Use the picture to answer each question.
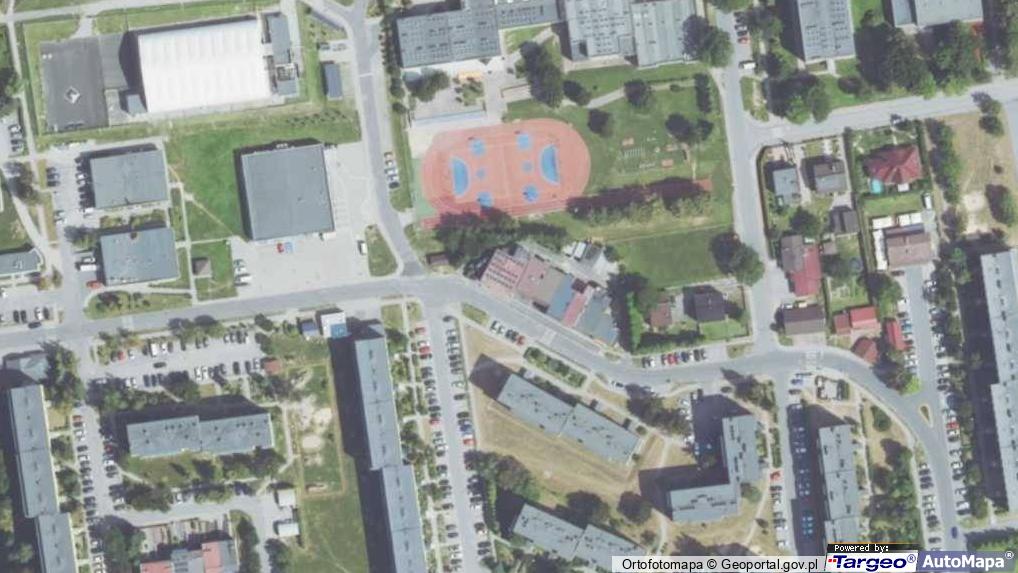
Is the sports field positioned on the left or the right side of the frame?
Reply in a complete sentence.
You can find the sports field on the right side of the picture.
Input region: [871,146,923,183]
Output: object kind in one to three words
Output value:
house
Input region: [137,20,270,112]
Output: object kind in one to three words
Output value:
building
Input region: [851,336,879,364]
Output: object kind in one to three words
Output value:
shed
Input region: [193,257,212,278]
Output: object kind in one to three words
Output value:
shed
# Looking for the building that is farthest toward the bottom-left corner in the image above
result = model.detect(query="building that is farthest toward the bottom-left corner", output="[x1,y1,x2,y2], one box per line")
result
[37,511,81,573]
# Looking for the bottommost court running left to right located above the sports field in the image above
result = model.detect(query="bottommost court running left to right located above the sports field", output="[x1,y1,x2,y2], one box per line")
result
[411,117,713,233]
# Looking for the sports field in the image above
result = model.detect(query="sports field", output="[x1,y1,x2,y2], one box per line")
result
[612,230,738,288]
